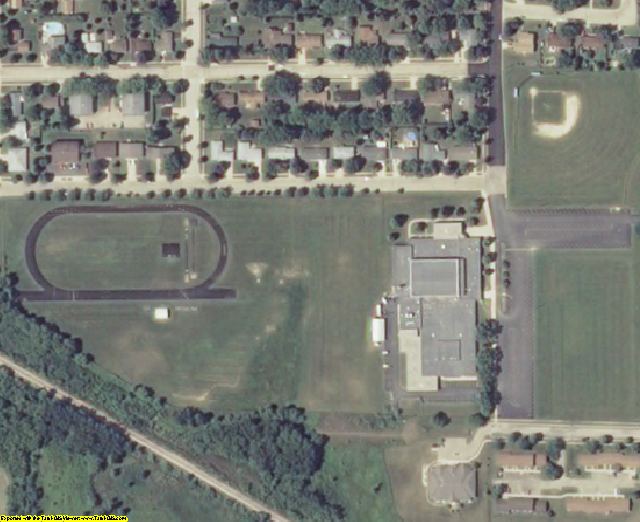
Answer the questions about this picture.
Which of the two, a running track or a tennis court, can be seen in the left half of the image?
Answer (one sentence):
What appears in the left half of the image is a running track.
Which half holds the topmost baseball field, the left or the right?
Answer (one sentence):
The topmost baseball field sits on the right side.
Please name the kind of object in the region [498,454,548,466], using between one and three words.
building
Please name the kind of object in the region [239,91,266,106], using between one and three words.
house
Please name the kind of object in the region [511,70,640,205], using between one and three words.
baseball field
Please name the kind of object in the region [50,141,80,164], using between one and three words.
house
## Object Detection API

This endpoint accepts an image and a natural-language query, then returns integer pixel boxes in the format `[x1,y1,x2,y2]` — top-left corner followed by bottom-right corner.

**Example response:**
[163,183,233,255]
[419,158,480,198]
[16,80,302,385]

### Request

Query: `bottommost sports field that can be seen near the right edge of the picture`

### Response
[536,251,640,416]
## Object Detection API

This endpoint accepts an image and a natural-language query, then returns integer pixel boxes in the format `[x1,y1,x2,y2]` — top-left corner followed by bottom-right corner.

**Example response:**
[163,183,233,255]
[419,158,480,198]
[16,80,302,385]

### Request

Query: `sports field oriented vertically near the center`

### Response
[303,200,383,408]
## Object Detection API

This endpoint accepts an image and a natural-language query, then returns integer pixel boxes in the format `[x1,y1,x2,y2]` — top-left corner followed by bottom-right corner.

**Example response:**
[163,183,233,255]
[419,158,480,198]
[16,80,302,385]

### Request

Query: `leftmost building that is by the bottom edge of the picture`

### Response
[429,464,476,504]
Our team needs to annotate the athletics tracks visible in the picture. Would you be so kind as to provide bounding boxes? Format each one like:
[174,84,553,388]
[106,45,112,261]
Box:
[20,206,237,300]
